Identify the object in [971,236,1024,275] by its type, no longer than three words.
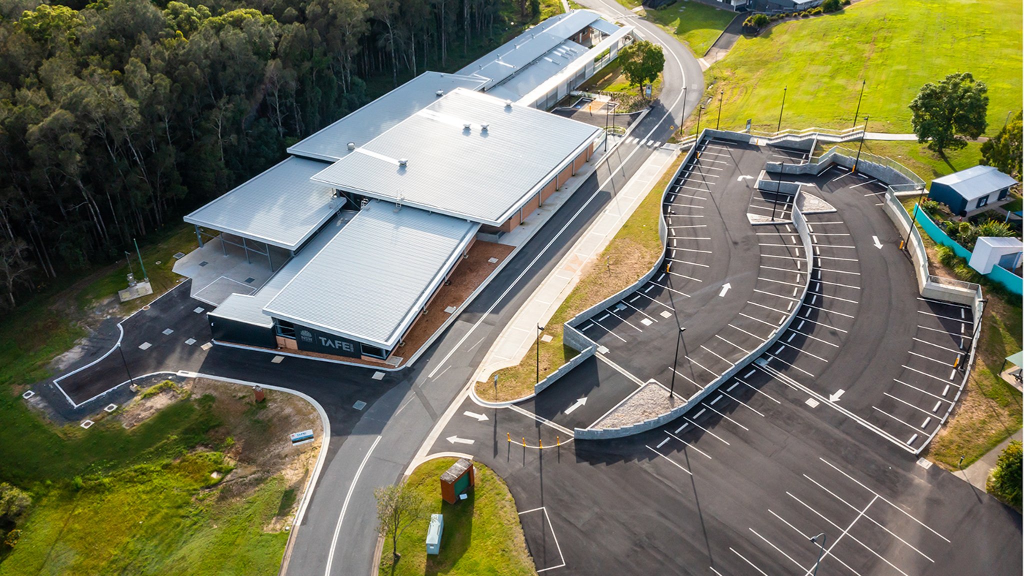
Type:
building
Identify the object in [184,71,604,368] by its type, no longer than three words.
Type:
building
